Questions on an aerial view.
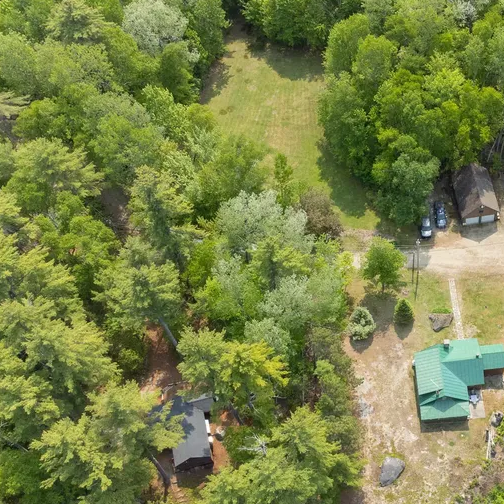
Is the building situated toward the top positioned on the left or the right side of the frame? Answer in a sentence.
You can find the building situated toward the top on the right side of the picture.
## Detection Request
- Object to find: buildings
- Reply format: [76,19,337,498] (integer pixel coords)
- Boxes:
[414,338,504,423]
[145,390,222,471]
[450,165,500,227]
